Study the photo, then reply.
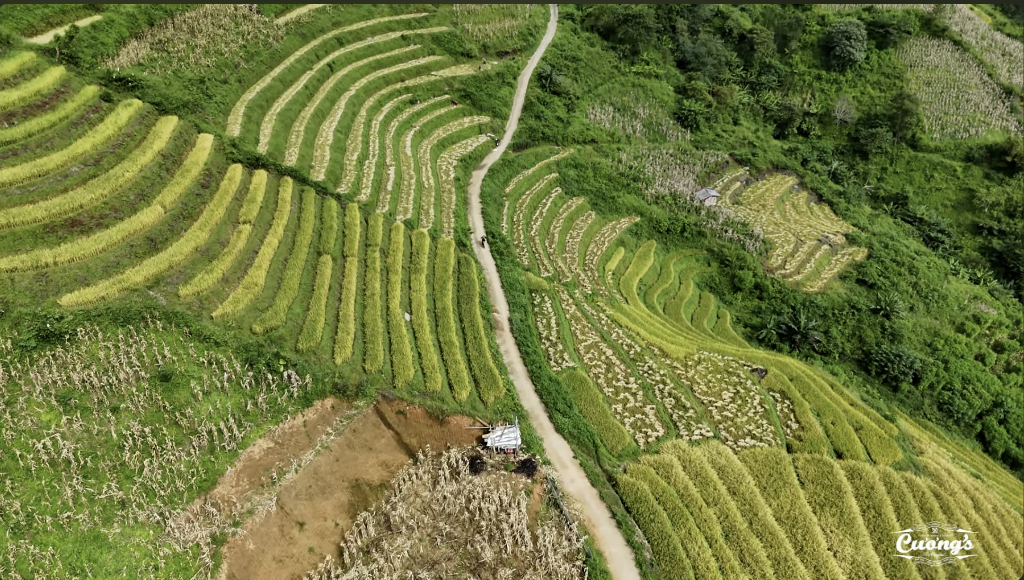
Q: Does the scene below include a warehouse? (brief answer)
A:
No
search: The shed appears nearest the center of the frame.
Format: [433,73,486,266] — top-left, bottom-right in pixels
[461,418,524,465]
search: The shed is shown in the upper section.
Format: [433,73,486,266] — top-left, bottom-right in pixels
[693,187,726,208]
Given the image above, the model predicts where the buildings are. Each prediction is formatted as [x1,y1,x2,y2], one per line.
[461,418,524,465]
[693,187,726,208]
